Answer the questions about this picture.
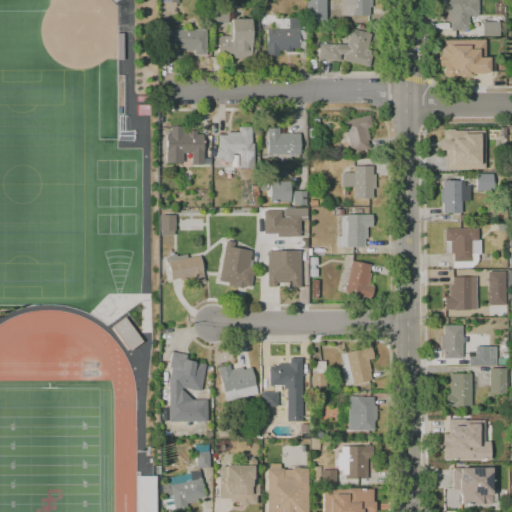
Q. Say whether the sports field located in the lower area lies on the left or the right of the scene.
left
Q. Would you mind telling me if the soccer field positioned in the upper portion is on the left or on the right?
left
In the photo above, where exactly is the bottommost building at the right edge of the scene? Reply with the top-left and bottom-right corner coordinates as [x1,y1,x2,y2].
[456,468,497,508]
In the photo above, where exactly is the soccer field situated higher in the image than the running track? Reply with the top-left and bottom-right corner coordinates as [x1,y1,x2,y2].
[0,0,143,313]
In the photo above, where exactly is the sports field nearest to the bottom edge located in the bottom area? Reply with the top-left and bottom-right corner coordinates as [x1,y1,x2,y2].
[0,380,114,512]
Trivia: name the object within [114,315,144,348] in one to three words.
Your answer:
building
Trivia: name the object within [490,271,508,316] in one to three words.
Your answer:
building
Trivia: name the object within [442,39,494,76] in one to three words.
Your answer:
house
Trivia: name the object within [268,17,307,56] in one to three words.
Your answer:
house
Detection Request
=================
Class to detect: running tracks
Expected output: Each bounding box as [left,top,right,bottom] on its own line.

[0,310,137,512]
